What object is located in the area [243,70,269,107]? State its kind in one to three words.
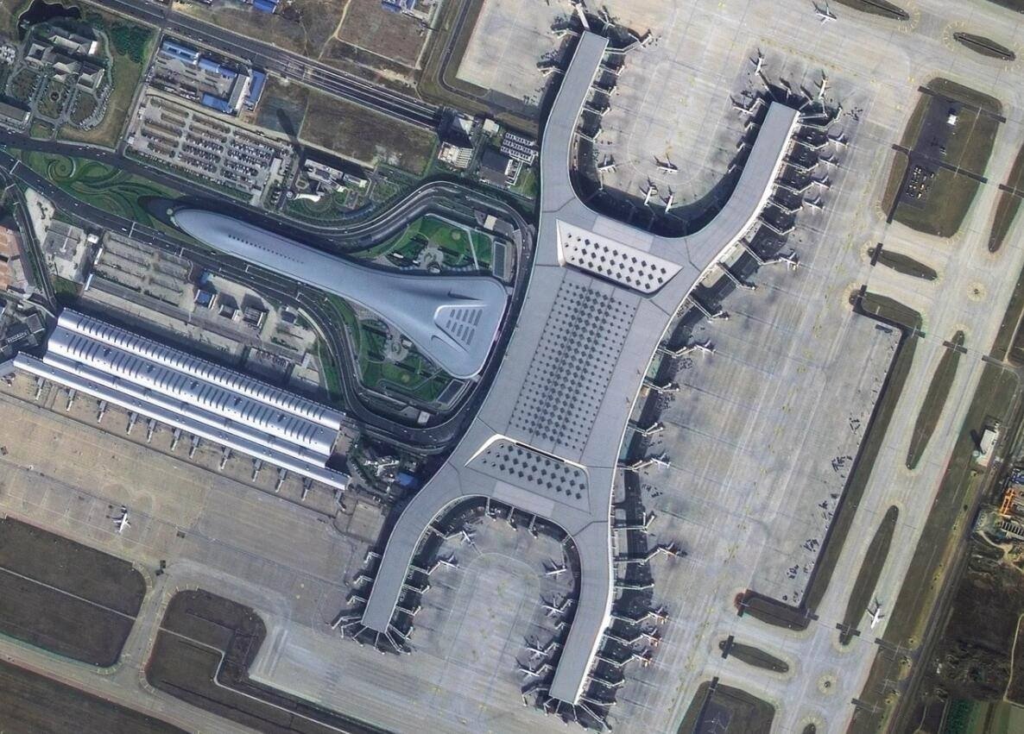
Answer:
shed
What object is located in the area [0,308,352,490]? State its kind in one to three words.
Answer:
building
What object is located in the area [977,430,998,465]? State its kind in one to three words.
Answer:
building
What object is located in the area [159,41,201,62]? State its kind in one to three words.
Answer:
shed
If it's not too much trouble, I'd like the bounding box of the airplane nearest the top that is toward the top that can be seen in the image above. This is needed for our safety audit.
[814,3,836,23]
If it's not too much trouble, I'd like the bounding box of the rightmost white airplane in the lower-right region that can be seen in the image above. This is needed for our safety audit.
[867,606,886,629]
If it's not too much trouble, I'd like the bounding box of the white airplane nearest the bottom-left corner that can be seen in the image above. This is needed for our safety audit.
[113,513,130,534]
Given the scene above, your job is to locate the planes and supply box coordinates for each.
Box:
[113,513,130,534]
[653,454,672,472]
[633,650,653,669]
[814,3,836,23]
[867,606,886,629]
[649,606,670,626]
[440,556,460,575]
[811,176,831,196]
[644,186,659,206]
[696,341,716,360]
[732,99,752,118]
[803,197,825,216]
[463,530,476,548]
[659,544,680,563]
[642,628,662,648]
[545,563,567,583]
[751,55,769,76]
[818,153,839,172]
[781,252,801,271]
[662,192,679,213]
[827,133,849,153]
[517,662,539,682]
[814,76,832,98]
[598,156,617,175]
[541,598,564,618]
[657,158,679,178]
[526,640,548,660]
